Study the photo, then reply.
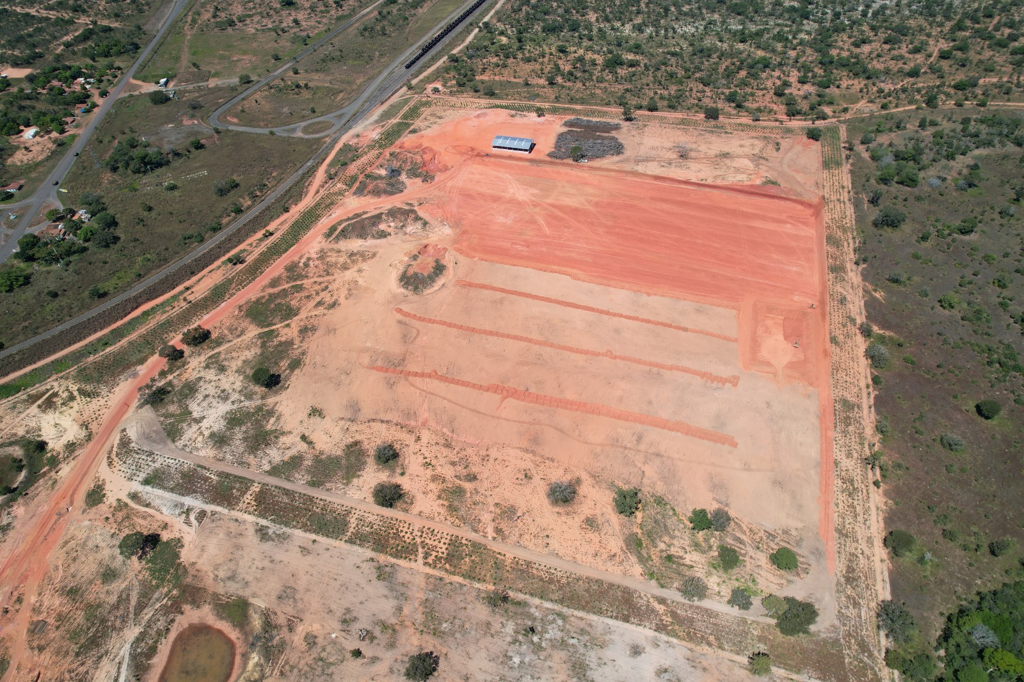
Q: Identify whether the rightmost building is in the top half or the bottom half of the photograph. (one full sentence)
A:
The top half of the photo is where the rightmost building is.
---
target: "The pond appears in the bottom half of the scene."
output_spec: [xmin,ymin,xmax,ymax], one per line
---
[159,624,235,682]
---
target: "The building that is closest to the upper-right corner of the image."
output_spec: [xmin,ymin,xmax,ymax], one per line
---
[492,134,535,154]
